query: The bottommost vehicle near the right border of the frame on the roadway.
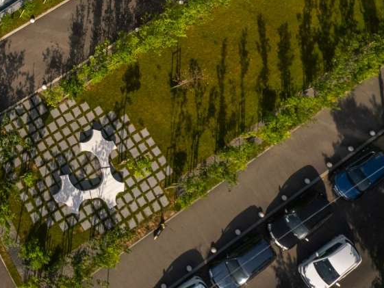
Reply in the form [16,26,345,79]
[296,232,367,288]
